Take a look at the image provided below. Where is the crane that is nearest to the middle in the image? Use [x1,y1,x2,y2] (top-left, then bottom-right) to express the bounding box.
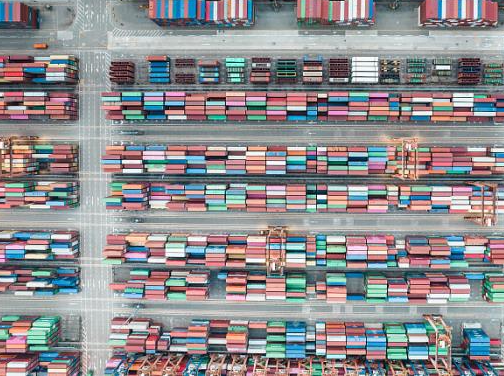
[266,222,286,276]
